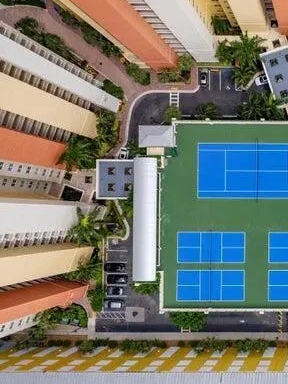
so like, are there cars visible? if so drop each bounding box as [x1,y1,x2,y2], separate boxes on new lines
[107,286,123,296]
[198,67,209,91]
[250,74,270,86]
[103,297,127,309]
[104,261,127,273]
[106,273,129,285]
